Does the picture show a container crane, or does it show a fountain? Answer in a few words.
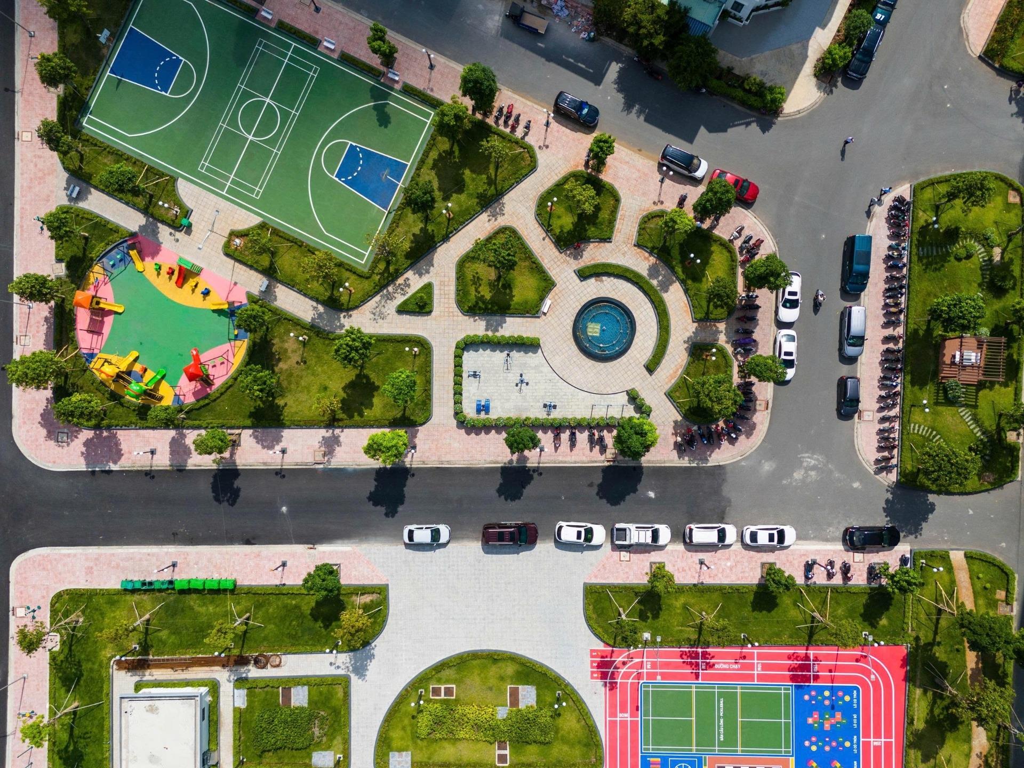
fountain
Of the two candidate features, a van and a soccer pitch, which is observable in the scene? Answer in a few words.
van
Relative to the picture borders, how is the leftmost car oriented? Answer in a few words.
from left to right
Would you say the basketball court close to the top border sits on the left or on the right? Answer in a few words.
left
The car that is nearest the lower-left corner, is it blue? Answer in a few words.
No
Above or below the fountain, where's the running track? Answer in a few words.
below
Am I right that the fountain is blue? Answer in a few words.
Yes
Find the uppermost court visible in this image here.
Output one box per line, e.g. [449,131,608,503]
[79,0,436,269]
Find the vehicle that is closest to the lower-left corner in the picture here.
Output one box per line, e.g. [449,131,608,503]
[403,523,451,547]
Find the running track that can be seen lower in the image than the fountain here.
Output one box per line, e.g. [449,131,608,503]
[590,642,909,768]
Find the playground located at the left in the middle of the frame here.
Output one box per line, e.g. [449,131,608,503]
[74,235,247,406]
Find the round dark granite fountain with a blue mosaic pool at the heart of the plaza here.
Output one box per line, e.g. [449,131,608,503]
[572,297,636,361]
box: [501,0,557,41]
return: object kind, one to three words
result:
truck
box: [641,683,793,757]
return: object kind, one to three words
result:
sports court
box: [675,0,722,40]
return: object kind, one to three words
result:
shed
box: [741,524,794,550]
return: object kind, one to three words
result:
car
